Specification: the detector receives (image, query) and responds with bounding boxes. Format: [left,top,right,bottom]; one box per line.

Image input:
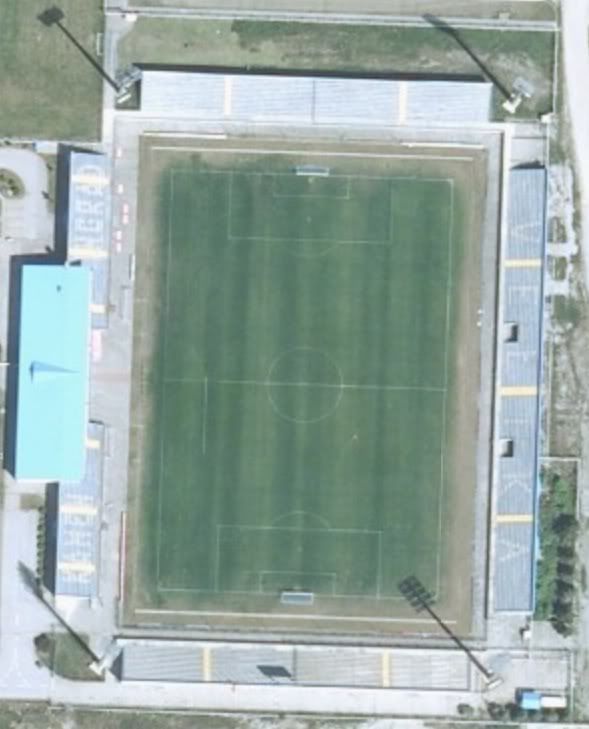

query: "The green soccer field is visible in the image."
[124,136,486,637]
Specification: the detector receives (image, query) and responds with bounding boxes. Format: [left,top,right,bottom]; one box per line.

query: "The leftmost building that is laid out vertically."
[15,264,90,481]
